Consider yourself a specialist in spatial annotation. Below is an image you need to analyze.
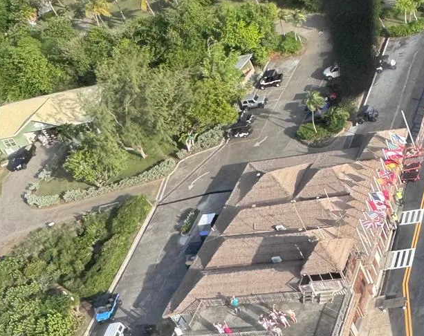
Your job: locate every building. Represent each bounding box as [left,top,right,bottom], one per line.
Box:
[165,122,409,336]
[0,56,110,157]
[227,52,254,85]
